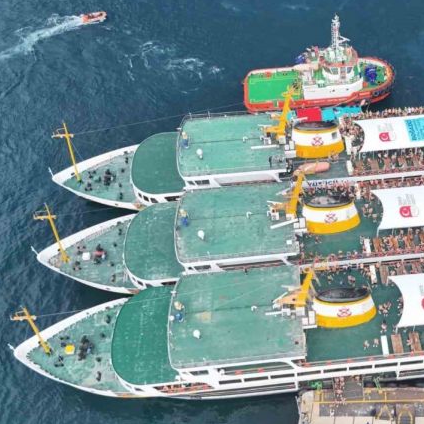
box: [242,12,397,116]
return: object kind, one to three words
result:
boat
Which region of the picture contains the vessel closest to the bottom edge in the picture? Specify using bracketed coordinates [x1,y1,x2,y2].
[3,257,424,402]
